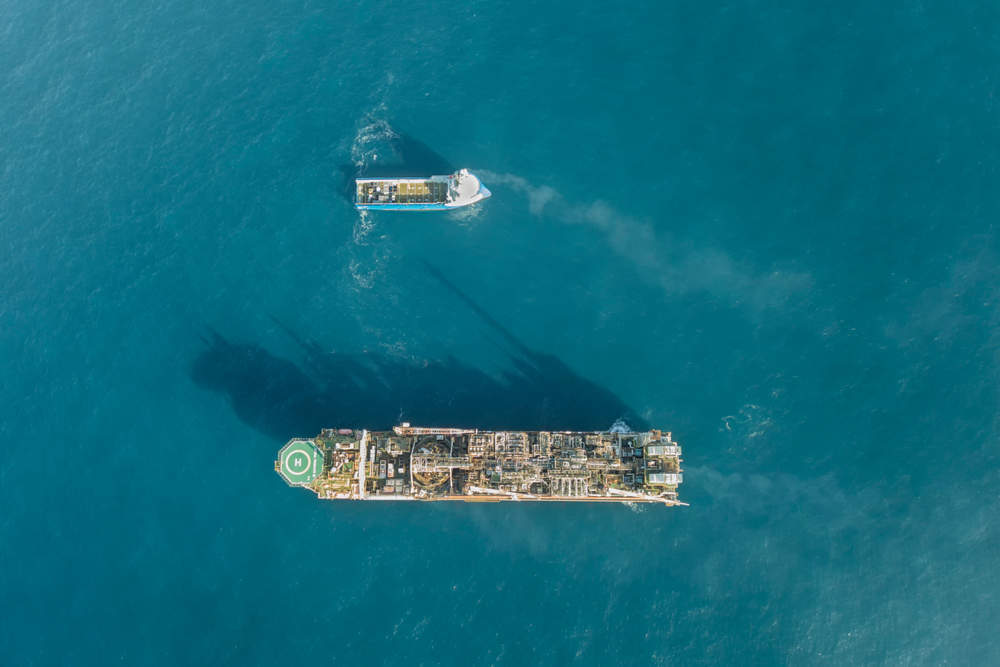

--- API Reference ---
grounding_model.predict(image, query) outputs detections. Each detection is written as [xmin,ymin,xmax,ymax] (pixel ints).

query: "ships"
[271,421,688,507]
[358,168,491,210]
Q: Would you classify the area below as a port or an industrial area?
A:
port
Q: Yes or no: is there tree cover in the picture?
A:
No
